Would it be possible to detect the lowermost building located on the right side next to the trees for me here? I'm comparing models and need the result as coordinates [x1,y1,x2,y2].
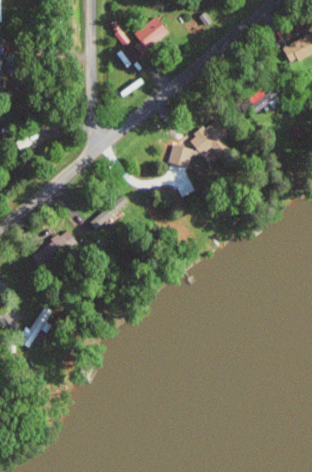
[169,124,229,170]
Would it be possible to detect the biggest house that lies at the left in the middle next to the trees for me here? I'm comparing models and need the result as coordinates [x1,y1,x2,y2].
[32,226,78,266]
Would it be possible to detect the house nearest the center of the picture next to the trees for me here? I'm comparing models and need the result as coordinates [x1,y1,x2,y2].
[91,196,128,228]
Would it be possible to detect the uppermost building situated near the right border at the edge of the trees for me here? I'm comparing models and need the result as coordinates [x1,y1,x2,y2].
[282,37,312,68]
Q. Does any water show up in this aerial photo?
Yes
